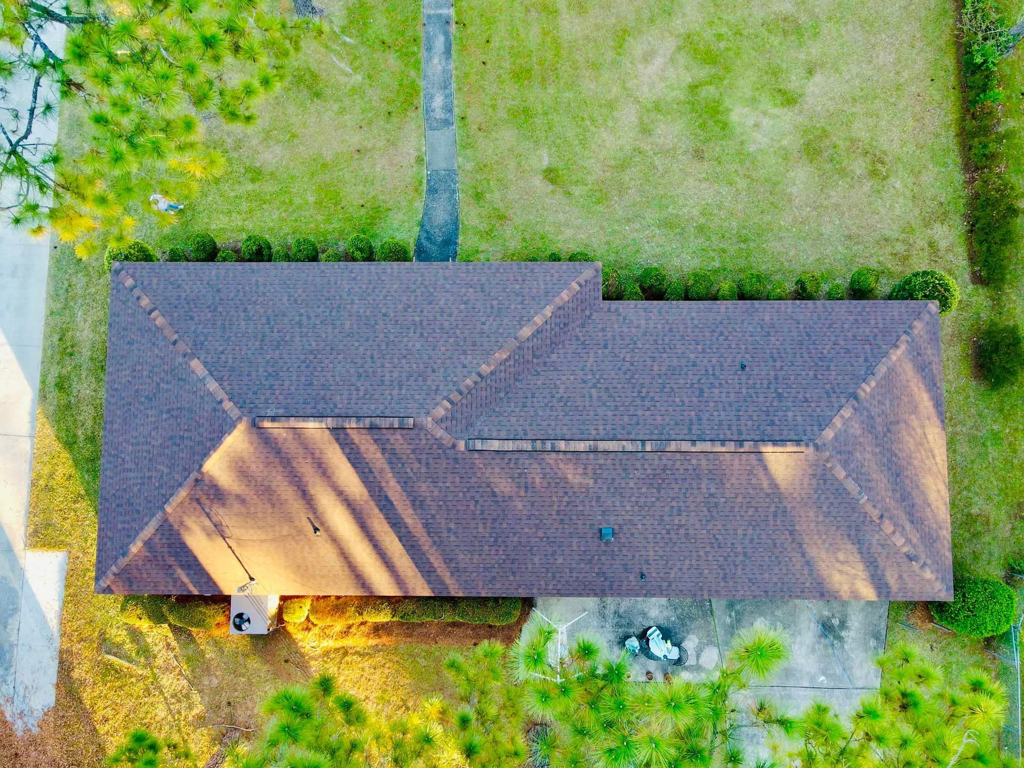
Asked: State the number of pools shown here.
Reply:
zero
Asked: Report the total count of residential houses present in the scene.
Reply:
one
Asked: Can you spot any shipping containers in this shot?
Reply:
No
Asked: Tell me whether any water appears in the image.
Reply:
No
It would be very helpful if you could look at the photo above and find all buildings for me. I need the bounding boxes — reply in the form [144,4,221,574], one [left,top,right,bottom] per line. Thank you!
[92,259,955,602]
